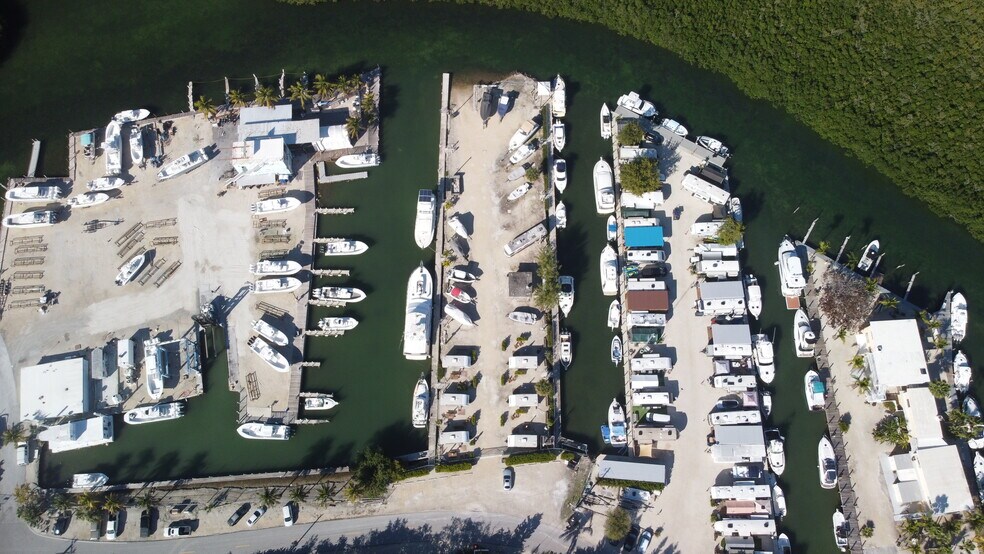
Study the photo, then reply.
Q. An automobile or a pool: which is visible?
automobile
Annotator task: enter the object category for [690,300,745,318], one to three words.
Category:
trailer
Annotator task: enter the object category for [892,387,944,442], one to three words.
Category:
house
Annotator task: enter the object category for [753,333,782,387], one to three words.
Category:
boat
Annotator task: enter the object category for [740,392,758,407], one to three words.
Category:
gazebo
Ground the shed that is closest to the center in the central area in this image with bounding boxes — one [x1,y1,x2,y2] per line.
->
[509,272,532,299]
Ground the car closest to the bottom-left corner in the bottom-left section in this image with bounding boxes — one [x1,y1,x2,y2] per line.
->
[54,515,69,535]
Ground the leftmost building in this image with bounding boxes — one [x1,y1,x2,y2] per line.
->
[19,357,93,421]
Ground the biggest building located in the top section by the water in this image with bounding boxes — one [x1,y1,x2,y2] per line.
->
[221,104,323,192]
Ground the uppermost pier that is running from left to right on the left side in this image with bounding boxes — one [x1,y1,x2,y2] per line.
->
[67,111,195,136]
